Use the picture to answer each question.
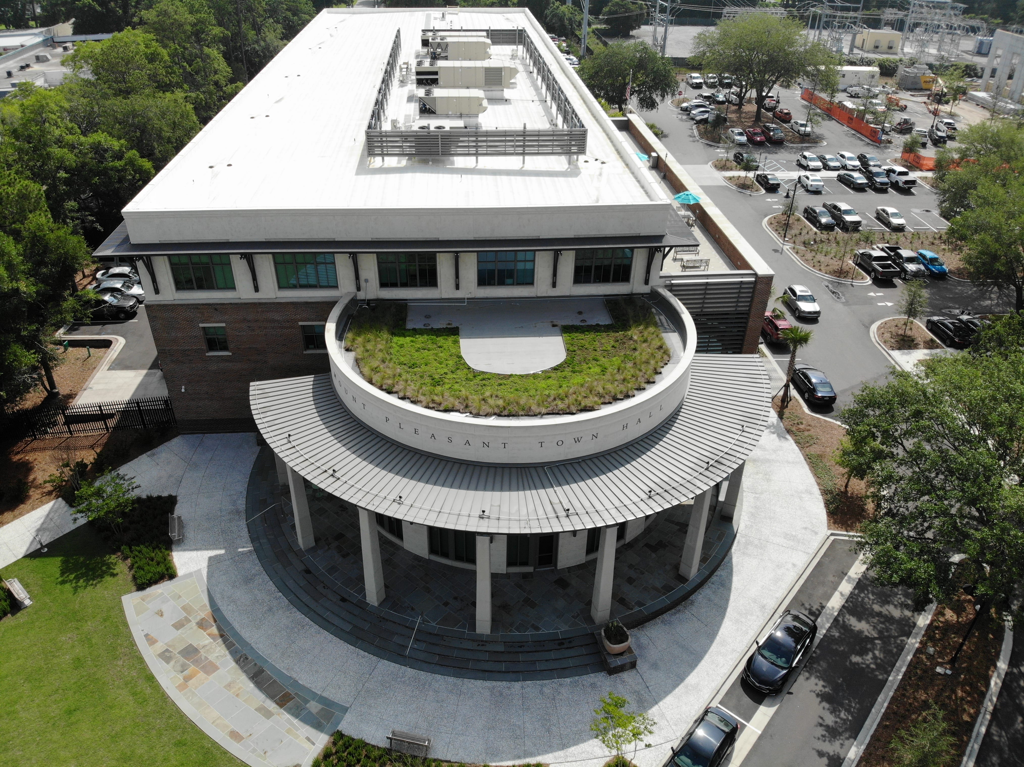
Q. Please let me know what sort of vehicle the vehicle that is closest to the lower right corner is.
car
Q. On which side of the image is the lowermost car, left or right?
right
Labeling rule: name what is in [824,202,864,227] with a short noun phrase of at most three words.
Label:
truck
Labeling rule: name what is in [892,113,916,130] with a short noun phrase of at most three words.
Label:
work vehicle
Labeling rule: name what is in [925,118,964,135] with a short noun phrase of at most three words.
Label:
vehicle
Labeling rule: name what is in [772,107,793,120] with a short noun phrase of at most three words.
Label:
vehicle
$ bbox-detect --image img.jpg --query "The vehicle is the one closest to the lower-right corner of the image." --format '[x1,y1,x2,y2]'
[743,605,821,692]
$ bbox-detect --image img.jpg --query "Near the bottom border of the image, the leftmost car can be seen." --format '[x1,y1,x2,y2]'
[660,705,740,767]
